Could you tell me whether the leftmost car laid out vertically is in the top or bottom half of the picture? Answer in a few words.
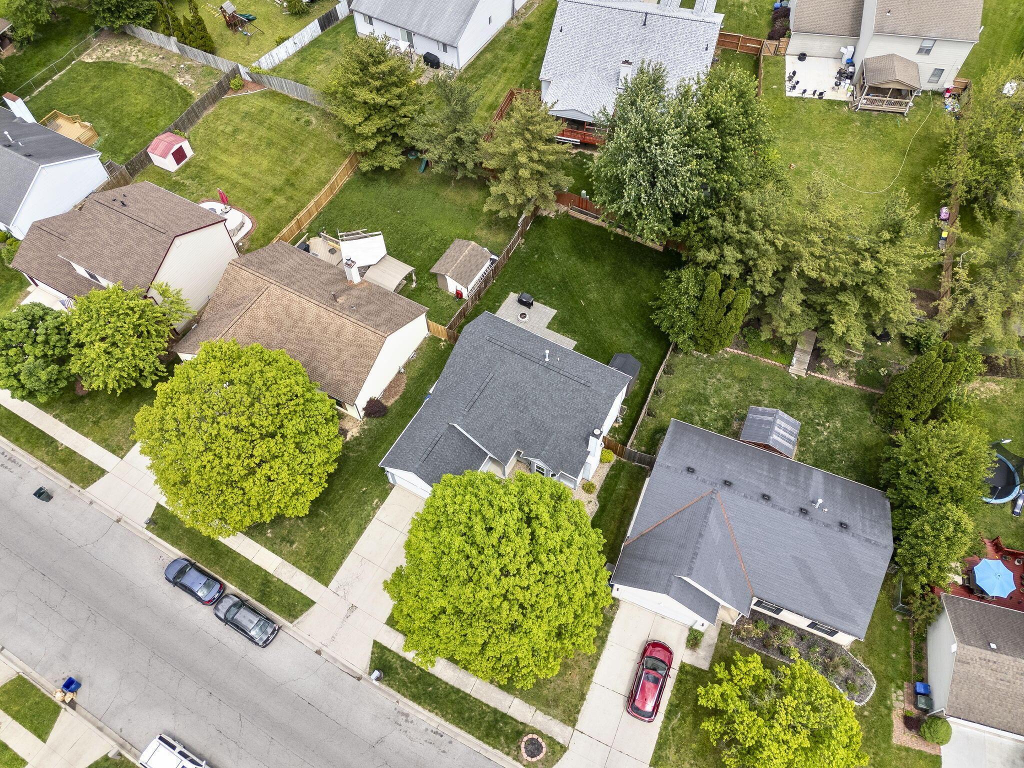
bottom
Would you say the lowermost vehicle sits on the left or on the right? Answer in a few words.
left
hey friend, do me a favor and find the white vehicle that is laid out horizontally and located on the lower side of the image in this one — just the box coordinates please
[138,735,210,768]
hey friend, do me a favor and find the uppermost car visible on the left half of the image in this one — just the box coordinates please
[162,554,228,612]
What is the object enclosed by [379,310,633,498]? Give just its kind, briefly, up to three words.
house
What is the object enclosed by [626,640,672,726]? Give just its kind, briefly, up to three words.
car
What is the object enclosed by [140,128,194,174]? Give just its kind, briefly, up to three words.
shed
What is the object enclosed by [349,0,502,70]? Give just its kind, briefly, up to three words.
house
